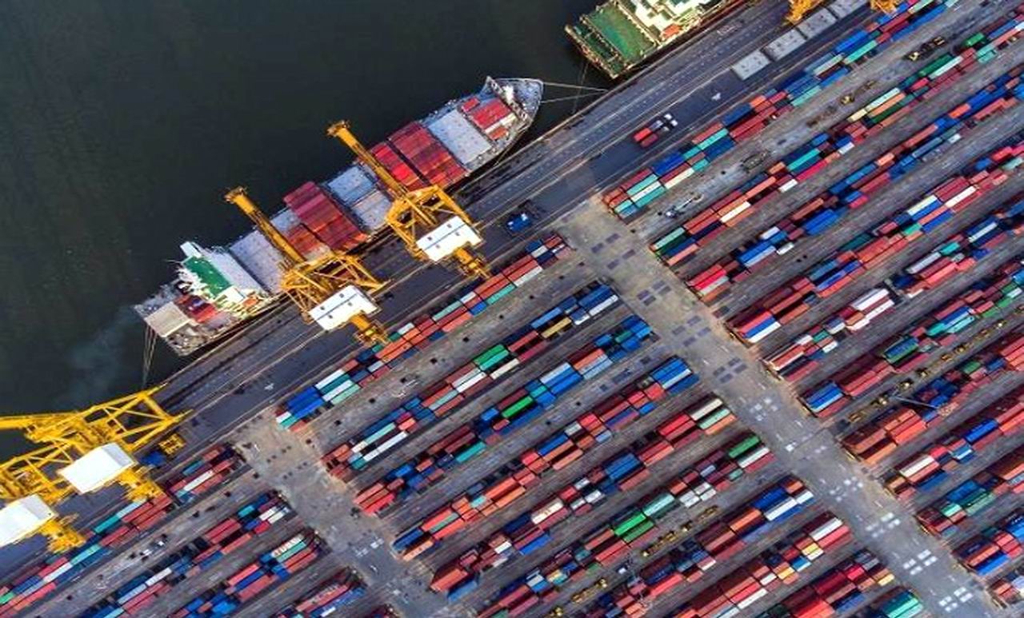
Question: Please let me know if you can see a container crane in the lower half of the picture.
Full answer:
Yes, there is a container crane in the lower half of the picture.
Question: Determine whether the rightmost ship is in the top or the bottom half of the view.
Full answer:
The top half of the photo is where the rightmost ship is.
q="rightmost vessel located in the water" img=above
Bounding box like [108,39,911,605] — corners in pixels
[565,0,744,82]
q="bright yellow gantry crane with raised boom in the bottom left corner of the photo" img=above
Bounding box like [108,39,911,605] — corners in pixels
[0,445,91,564]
